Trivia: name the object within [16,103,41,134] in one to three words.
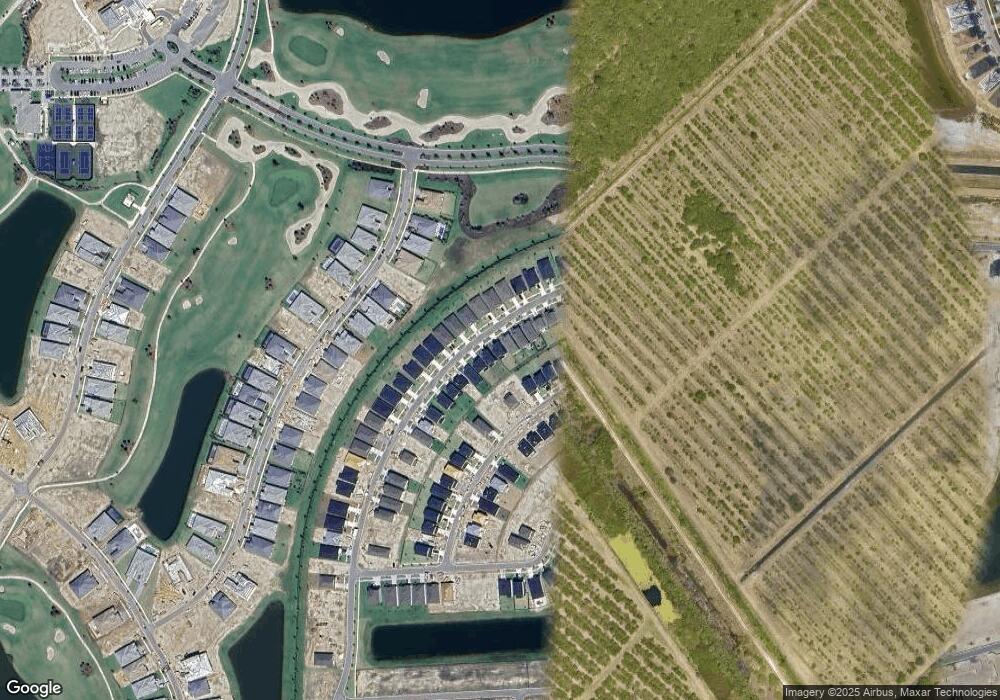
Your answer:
building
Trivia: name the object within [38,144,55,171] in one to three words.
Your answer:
basketball court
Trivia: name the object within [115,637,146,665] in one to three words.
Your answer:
house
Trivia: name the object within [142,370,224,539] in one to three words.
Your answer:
pond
